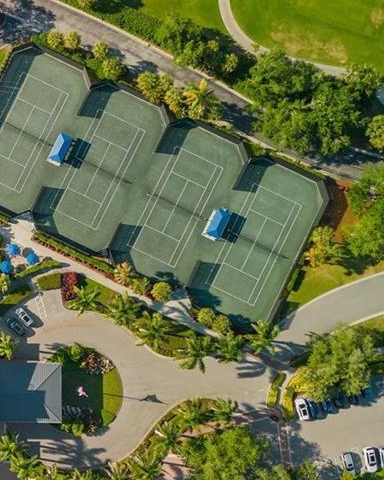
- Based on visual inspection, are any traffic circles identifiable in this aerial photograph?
Yes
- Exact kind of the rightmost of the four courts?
tennis court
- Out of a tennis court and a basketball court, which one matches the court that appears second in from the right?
tennis court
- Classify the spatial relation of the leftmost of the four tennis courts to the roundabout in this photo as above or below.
above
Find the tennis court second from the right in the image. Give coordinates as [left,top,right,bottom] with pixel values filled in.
[111,120,247,288]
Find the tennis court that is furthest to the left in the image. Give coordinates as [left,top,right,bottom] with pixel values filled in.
[0,47,90,215]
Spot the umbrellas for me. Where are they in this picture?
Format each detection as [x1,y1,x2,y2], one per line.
[26,252,39,265]
[0,259,13,272]
[7,243,20,257]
